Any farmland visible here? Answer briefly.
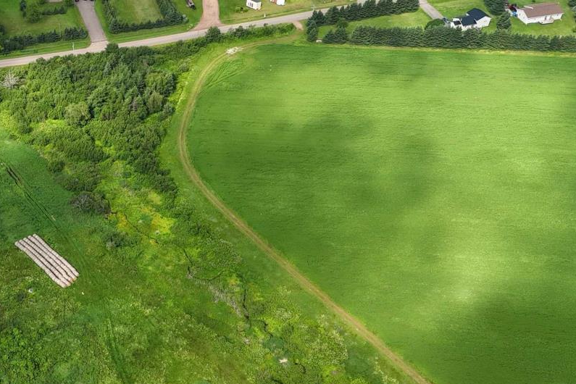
Yes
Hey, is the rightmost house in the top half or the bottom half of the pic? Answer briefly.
top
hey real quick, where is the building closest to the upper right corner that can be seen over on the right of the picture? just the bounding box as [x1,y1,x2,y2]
[507,1,566,24]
